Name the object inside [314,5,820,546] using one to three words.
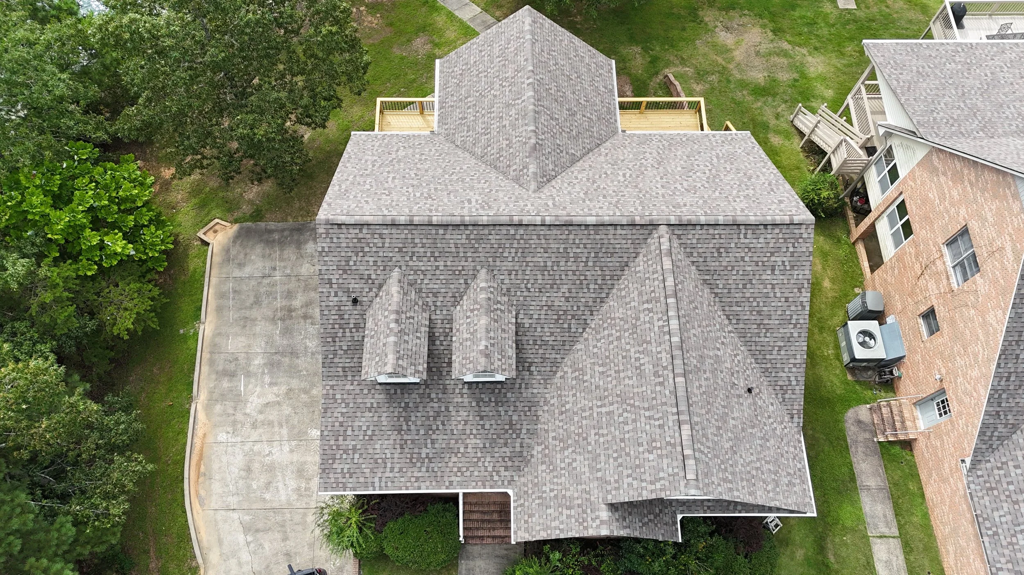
house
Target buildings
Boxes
[314,5,820,546]
[843,39,1024,575]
